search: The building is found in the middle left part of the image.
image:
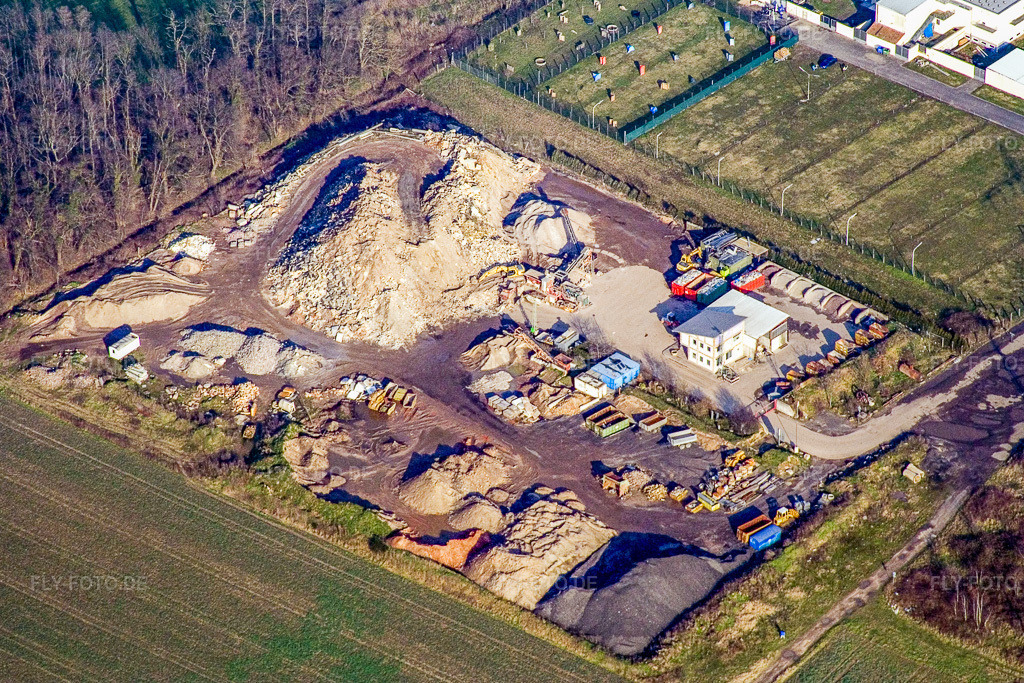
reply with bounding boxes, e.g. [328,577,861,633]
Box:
[108,334,139,360]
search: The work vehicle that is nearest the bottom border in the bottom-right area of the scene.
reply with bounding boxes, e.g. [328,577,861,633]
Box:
[773,505,805,528]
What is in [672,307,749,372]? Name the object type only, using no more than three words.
building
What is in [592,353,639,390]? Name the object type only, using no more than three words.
building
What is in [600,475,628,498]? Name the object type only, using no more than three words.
truck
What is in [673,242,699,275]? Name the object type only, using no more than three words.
work vehicle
